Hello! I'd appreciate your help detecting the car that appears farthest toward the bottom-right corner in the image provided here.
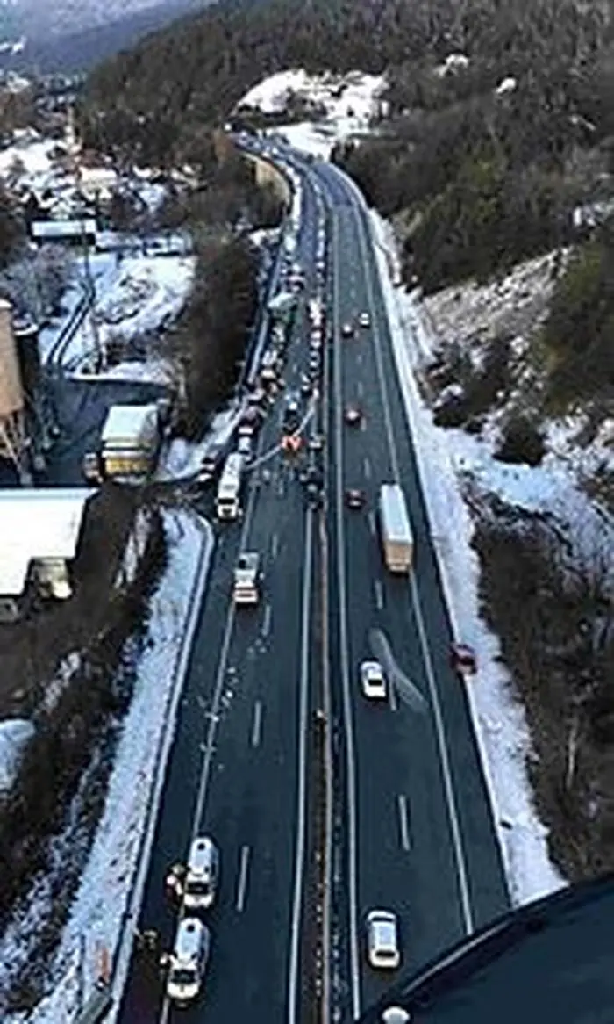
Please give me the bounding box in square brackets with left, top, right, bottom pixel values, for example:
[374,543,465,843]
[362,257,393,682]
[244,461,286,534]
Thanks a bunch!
[367,911,399,976]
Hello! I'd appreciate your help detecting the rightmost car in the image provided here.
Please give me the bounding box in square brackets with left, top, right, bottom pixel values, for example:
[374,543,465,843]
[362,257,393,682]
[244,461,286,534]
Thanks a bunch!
[451,642,476,678]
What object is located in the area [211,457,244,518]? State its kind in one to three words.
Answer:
bus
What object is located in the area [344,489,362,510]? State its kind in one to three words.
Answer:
car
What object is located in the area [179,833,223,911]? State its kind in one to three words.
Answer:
van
